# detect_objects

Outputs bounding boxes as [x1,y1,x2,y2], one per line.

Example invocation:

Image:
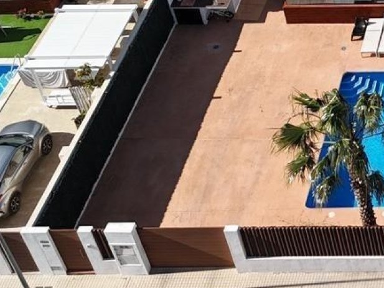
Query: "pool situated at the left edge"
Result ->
[0,57,21,107]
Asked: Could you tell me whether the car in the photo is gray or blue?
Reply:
gray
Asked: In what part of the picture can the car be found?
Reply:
left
